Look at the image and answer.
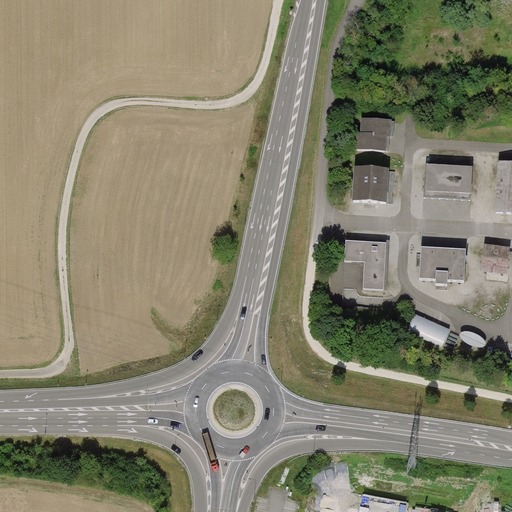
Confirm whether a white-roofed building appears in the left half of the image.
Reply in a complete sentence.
No, there's no white-roofed building to be seen in the left half of the image.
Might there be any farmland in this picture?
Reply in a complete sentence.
Yes, some farmland is visible.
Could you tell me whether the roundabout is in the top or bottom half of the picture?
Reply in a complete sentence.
The roundabout is in the bottom half of the image.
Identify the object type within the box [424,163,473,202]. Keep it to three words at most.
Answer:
building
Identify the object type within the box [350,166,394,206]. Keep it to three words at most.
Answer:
house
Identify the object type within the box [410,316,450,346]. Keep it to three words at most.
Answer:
building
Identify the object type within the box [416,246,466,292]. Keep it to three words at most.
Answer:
house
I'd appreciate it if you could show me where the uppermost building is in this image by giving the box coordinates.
[356,118,394,154]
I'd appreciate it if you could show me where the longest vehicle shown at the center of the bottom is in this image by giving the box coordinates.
[202,432,218,471]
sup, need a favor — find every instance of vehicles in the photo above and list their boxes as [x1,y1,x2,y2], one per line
[170,444,182,454]
[192,350,203,360]
[202,432,218,471]
[148,419,158,424]
[316,426,326,431]
[264,408,270,420]
[170,422,180,428]
[194,398,198,408]
[240,446,250,457]
[241,308,246,319]
[261,354,266,364]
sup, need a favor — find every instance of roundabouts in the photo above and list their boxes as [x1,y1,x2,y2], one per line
[184,359,286,460]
